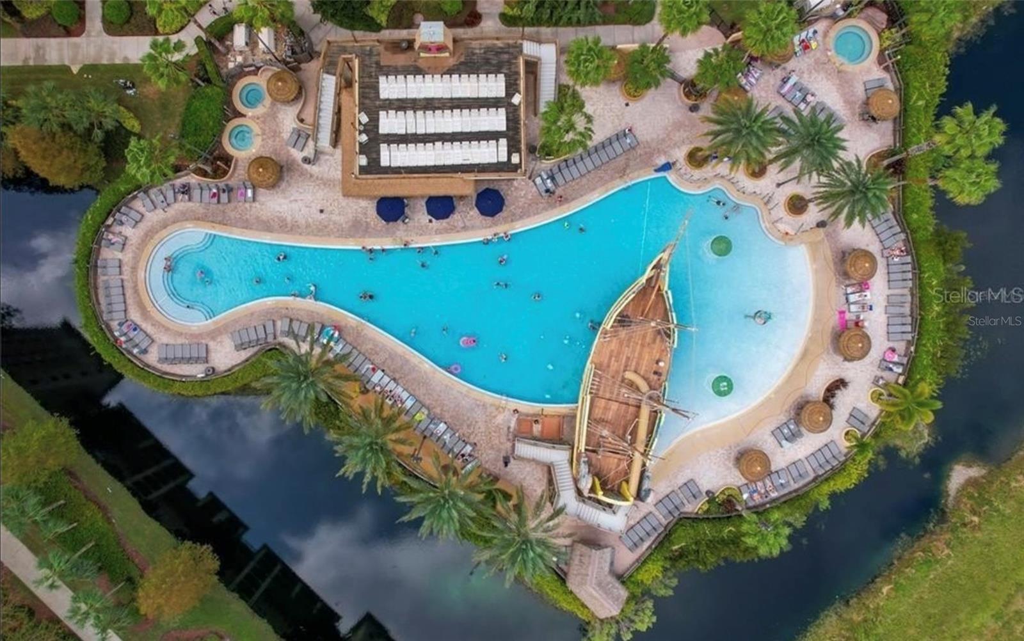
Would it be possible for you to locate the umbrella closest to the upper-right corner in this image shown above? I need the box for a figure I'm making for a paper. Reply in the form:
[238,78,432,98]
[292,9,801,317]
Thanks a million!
[864,88,900,124]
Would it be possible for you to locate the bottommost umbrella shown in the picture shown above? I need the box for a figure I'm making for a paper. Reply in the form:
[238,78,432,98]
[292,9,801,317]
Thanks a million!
[734,445,770,482]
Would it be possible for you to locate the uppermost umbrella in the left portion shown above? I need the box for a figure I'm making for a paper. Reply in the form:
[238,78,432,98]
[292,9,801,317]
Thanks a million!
[266,71,300,105]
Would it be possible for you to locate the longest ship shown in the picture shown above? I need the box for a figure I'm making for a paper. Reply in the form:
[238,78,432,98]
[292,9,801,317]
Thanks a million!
[571,214,696,515]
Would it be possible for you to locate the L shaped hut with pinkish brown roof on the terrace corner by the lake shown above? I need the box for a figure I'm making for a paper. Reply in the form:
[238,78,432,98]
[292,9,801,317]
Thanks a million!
[565,540,629,620]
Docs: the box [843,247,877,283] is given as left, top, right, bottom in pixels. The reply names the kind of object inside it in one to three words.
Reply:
umbrella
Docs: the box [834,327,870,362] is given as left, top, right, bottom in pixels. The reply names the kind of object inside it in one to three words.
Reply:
umbrella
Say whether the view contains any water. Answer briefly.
Yes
